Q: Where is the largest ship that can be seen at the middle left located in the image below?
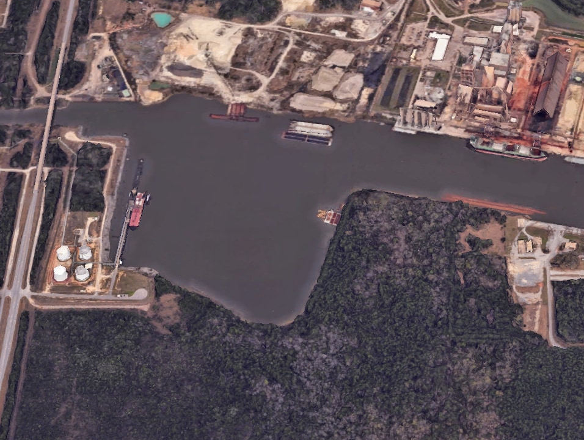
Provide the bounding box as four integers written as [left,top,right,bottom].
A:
[129,193,147,228]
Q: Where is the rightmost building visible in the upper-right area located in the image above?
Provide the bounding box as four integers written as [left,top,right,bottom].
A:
[533,53,568,119]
